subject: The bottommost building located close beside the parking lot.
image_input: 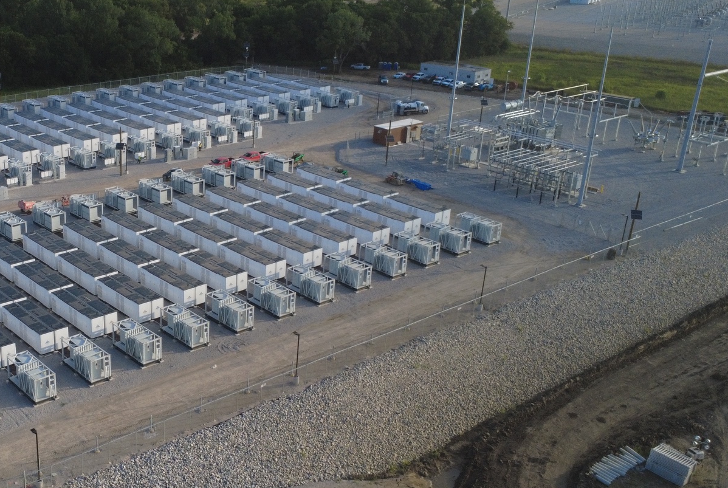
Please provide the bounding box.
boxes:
[373,116,428,148]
